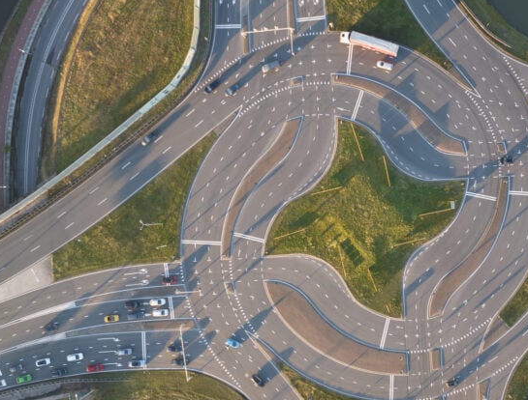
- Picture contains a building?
No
